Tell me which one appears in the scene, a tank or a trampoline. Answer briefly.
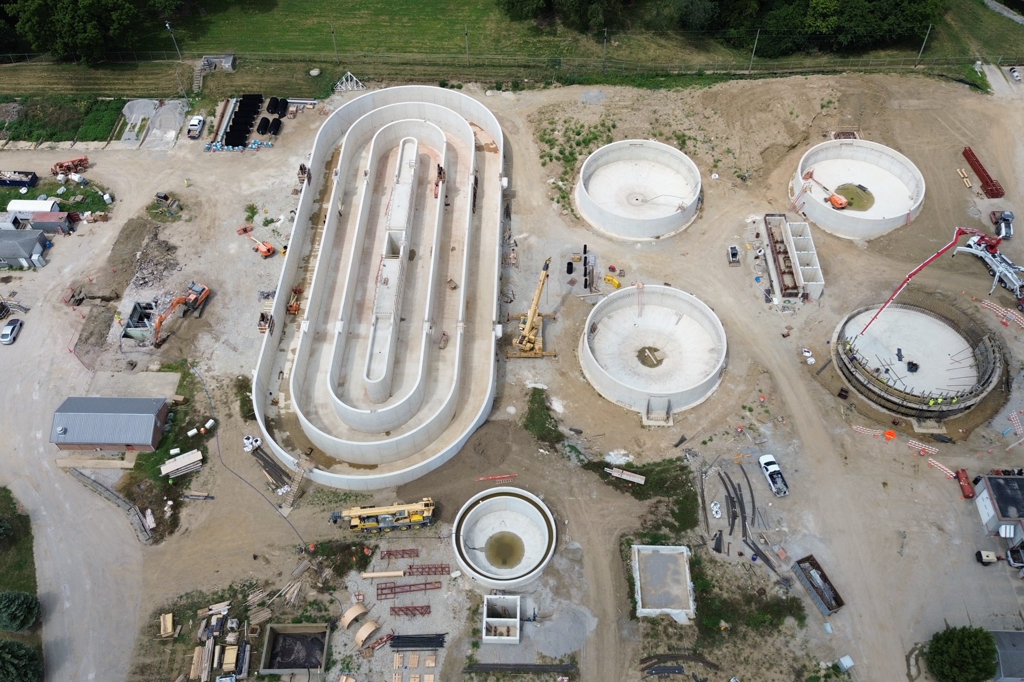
tank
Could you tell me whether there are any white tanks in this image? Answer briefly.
Yes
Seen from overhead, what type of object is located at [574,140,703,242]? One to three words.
storage tank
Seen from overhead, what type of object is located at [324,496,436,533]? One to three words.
crane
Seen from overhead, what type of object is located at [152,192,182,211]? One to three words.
work vehicle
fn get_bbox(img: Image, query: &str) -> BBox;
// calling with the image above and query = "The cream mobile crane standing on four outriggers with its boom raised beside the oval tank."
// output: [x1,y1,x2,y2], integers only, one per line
[503,255,560,362]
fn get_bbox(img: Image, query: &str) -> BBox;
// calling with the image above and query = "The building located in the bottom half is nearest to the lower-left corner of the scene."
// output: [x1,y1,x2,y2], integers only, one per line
[50,395,172,456]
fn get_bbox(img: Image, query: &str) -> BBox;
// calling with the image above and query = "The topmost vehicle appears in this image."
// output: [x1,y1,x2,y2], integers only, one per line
[187,111,203,135]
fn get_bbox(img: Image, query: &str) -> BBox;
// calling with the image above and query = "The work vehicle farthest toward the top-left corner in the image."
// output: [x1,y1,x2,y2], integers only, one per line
[42,155,84,179]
